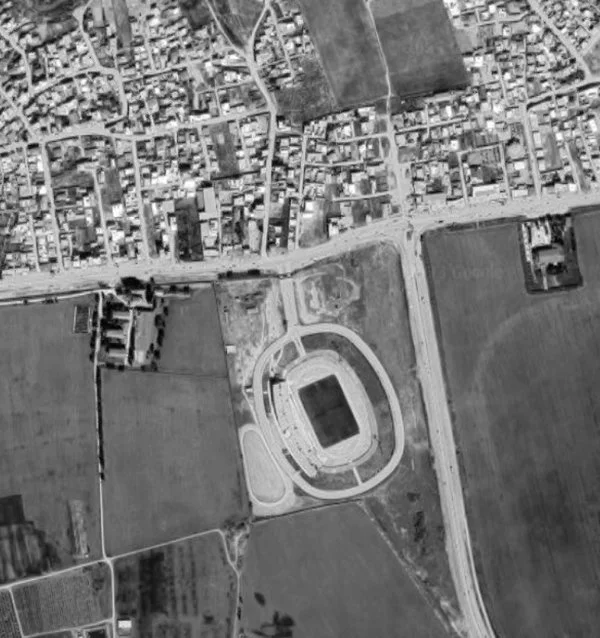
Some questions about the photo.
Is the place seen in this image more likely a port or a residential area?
residential area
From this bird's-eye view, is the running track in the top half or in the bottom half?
bottom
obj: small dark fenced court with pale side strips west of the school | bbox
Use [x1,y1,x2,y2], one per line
[73,305,90,333]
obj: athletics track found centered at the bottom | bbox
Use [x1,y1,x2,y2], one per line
[239,424,310,515]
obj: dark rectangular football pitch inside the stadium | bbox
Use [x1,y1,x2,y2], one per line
[299,374,360,448]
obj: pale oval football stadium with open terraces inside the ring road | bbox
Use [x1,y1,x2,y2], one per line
[274,350,379,476]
